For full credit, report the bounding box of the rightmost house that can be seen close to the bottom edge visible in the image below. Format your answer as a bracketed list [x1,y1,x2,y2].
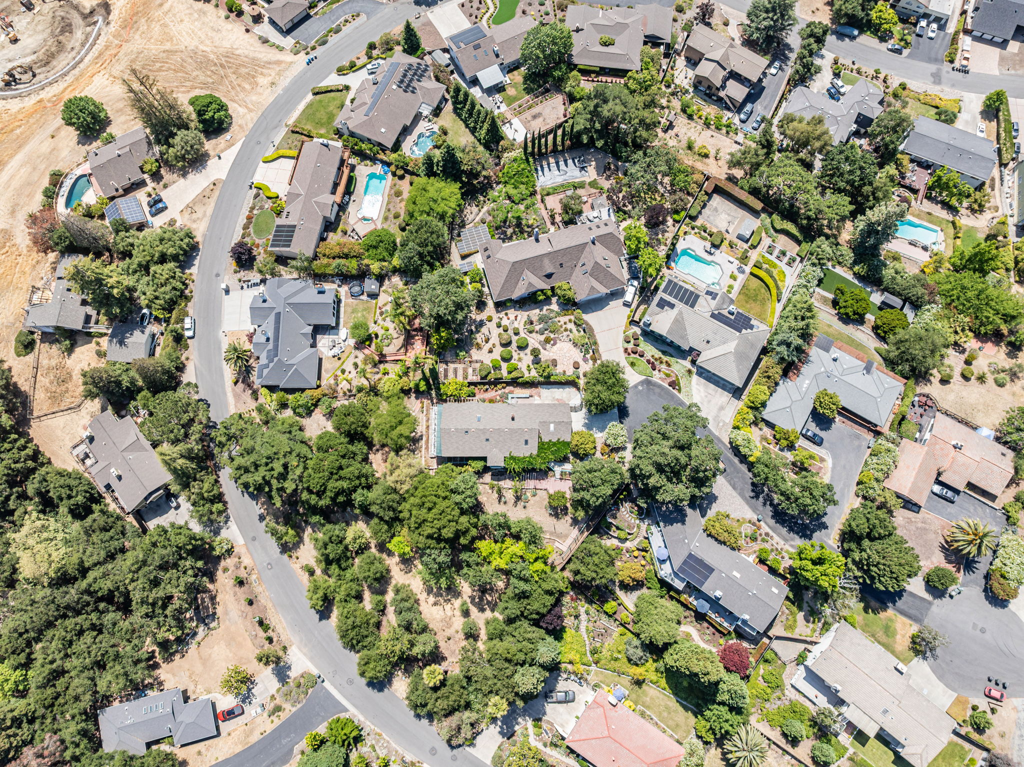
[810,620,956,767]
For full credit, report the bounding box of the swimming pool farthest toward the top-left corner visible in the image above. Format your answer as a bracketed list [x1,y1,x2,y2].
[62,173,94,212]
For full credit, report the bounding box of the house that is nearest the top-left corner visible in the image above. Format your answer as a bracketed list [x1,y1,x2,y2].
[88,130,158,199]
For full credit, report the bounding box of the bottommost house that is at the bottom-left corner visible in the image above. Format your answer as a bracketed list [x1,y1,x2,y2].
[100,688,220,765]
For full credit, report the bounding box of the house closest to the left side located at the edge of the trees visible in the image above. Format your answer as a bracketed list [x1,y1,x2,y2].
[24,253,91,332]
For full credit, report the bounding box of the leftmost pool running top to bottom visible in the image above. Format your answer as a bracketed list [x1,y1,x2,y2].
[355,166,388,225]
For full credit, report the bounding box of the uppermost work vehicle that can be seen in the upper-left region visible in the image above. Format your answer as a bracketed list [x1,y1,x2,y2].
[0,20,21,43]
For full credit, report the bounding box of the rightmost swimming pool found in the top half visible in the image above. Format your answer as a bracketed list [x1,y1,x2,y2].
[902,218,940,250]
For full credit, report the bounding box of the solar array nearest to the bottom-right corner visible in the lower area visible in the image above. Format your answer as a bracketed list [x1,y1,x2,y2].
[676,553,714,580]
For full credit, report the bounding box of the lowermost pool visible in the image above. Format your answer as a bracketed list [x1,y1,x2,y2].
[673,247,724,292]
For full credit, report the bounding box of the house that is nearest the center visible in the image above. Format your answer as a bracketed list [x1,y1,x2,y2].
[439,403,572,468]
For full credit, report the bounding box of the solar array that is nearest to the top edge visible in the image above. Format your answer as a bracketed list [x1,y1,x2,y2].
[448,24,487,48]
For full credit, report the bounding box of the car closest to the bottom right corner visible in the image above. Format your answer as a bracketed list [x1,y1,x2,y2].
[986,688,1009,702]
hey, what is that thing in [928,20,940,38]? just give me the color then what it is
white vehicle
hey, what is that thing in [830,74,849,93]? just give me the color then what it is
white vehicle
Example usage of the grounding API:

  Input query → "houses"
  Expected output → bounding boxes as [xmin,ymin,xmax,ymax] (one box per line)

[780,78,884,150]
[683,24,769,100]
[24,253,91,332]
[439,403,572,468]
[810,620,956,767]
[761,339,907,434]
[479,219,627,304]
[880,413,1014,506]
[333,50,447,154]
[445,15,534,89]
[264,0,310,35]
[247,278,336,389]
[641,275,768,388]
[100,688,220,765]
[107,322,156,363]
[565,0,673,77]
[81,410,177,512]
[898,115,999,184]
[564,689,682,767]
[886,0,955,26]
[968,0,1024,48]
[88,130,158,199]
[268,139,342,261]
[653,501,789,633]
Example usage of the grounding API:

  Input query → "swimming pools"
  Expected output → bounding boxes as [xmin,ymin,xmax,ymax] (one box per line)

[355,166,388,225]
[408,129,438,159]
[673,247,724,292]
[902,218,940,250]
[62,173,94,212]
